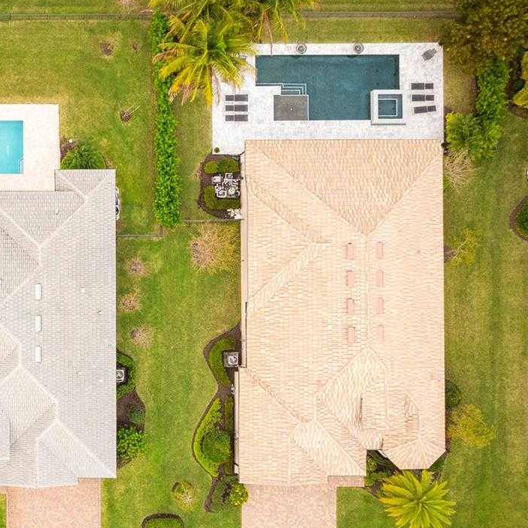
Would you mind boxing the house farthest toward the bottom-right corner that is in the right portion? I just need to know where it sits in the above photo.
[233,138,446,489]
